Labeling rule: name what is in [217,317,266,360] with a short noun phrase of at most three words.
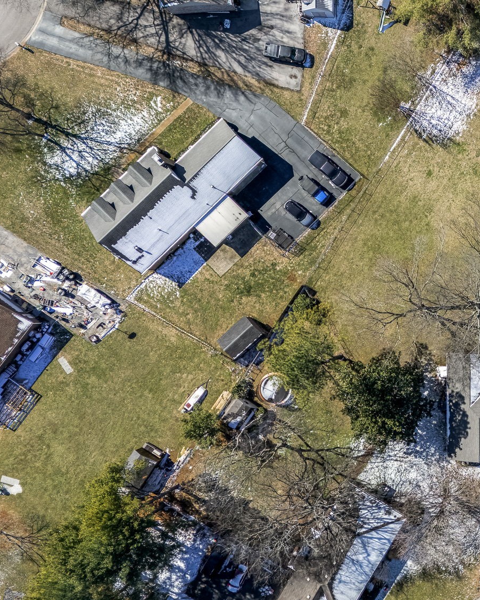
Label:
shed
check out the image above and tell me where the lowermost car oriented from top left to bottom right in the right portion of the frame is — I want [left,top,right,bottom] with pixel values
[284,197,319,232]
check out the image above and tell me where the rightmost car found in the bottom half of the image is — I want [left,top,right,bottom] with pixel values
[224,559,250,598]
